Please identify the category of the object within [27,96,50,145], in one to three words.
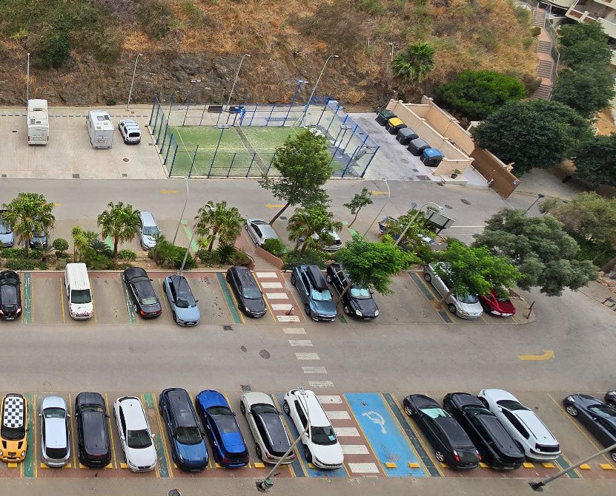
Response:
camper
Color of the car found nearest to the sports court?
white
